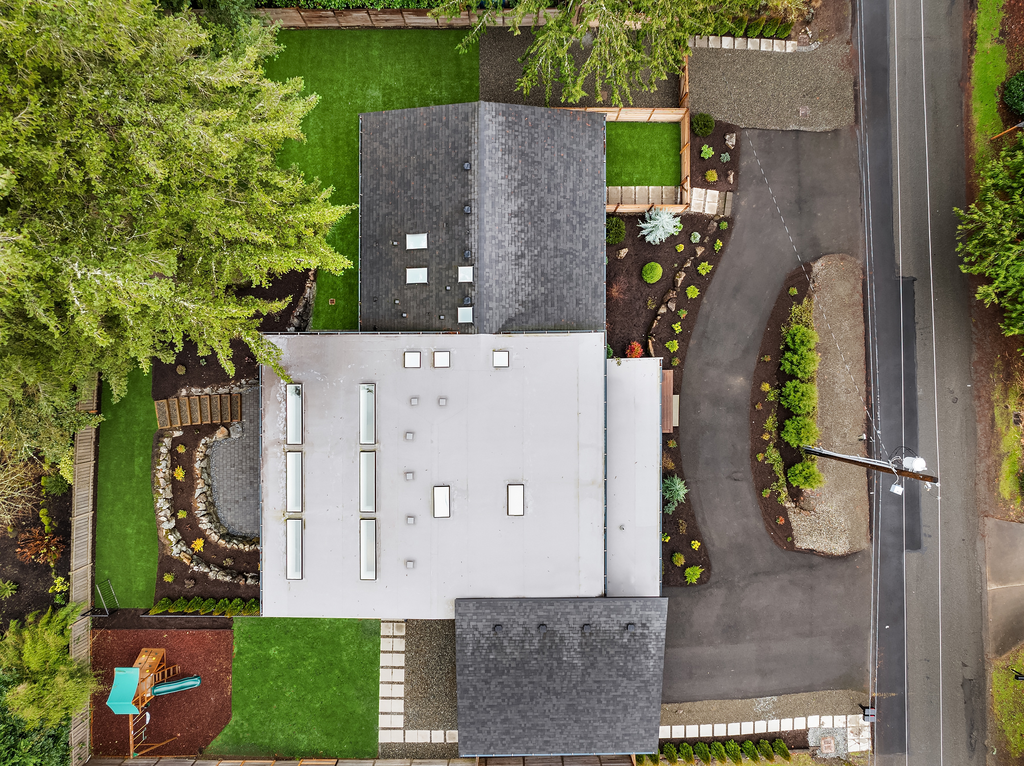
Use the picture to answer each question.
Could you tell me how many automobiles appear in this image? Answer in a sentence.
I count no automobiles.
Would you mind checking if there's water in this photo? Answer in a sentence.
No, no water is visible.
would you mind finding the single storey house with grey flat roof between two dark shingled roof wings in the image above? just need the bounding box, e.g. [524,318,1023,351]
[259,101,668,759]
